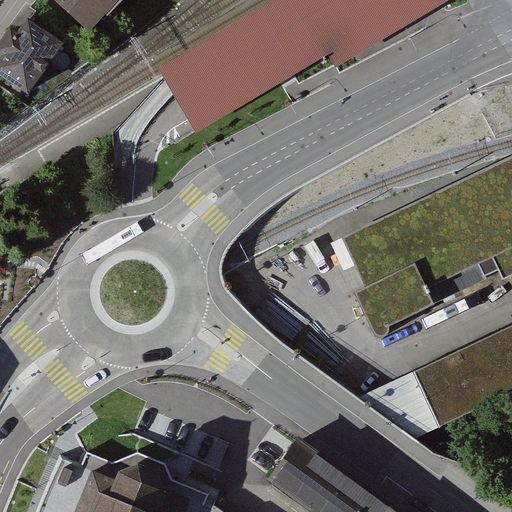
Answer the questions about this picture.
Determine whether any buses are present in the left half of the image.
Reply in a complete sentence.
Yes, a bus shows up in the left half of the image.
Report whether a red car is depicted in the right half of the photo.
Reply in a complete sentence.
No, there's no red car to be seen in the right half of the photo.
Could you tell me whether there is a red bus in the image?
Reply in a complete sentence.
No, the scene contains no red bus.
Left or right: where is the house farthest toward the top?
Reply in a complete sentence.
The house farthest toward the top appears in the left half of the scene.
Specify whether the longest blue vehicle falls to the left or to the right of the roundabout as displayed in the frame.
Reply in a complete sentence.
Compared with the roundabout, the longest blue vehicle is located further to the right.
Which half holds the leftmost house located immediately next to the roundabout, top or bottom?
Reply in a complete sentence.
Seen from above, the leftmost house located immediately next to the roundabout lies in the bottom half of the view.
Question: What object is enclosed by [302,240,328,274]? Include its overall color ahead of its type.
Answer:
white truck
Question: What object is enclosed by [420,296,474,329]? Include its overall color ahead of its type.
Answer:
white bus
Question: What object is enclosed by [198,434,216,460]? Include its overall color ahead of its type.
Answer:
black car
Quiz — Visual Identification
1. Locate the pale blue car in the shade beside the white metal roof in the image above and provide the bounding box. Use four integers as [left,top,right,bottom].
[359,370,380,392]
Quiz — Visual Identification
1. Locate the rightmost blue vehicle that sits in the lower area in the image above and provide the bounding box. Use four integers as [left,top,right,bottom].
[381,323,420,348]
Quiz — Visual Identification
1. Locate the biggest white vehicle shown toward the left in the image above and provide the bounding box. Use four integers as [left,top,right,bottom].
[80,220,146,268]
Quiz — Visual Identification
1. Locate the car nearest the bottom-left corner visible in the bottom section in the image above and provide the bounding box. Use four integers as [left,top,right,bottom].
[0,415,20,440]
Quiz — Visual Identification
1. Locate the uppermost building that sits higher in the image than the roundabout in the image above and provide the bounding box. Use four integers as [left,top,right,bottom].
[57,0,121,31]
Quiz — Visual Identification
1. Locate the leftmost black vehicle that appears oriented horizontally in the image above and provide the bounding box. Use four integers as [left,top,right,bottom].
[144,348,170,360]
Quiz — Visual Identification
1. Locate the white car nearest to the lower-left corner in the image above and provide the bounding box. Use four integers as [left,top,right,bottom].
[82,368,106,388]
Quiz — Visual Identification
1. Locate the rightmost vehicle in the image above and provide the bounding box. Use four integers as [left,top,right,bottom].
[488,286,508,302]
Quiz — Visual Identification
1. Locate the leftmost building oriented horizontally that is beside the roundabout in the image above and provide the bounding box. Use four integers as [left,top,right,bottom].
[74,452,210,512]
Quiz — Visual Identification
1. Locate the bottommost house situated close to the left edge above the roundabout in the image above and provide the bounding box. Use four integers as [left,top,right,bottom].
[0,18,62,94]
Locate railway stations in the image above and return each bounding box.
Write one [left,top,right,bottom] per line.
[158,0,450,134]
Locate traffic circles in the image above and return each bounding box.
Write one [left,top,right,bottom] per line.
[0,166,256,432]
